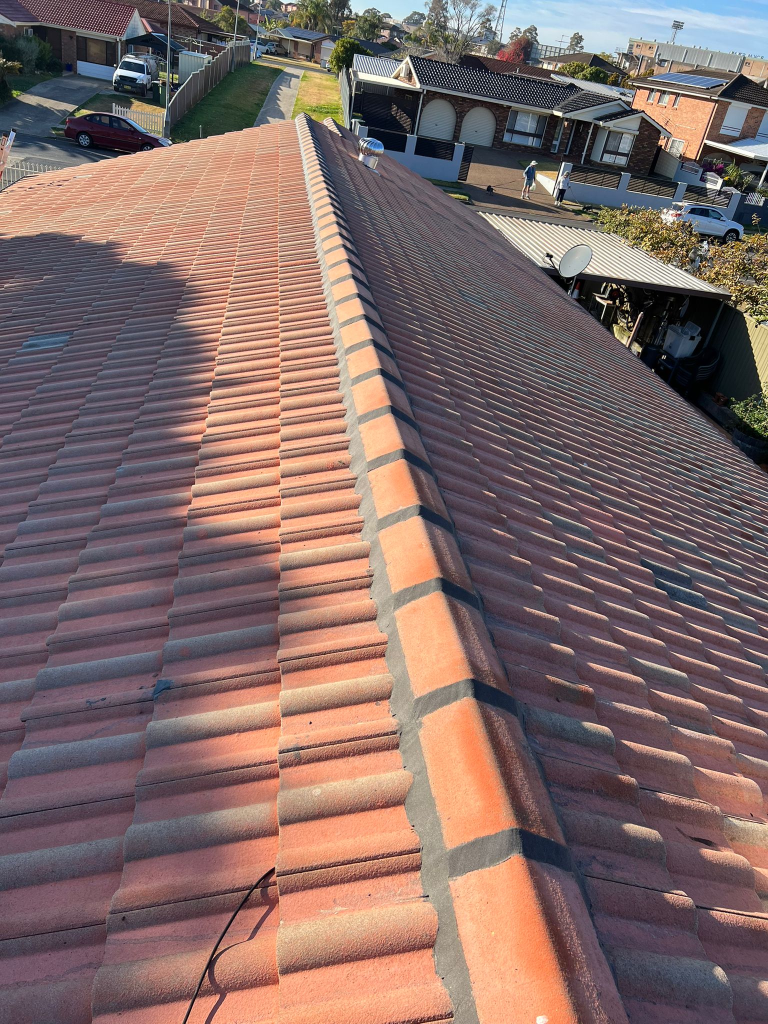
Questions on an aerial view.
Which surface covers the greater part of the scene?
buildings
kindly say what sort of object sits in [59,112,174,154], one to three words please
car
